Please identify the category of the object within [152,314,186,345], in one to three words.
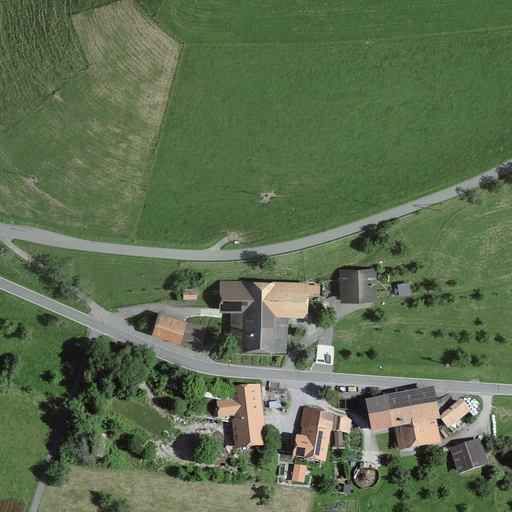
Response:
shed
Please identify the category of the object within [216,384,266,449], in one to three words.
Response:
house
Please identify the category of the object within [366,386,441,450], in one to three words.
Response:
barn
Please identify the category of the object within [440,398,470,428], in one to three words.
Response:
barn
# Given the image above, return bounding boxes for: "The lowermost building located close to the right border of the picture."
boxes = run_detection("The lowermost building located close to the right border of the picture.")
[450,439,488,474]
